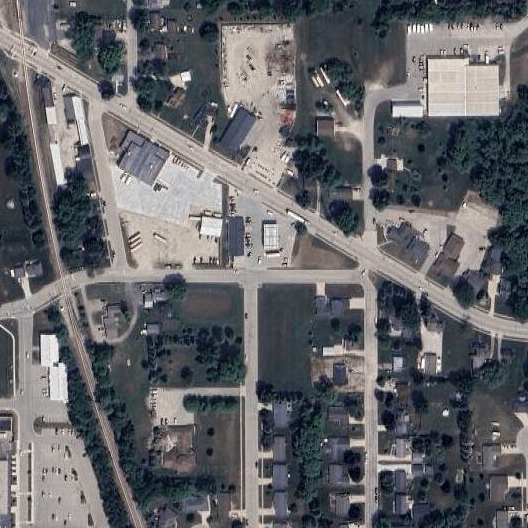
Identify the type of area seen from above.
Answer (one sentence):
The area seen from above is a residential area.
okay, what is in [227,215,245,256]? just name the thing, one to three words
building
